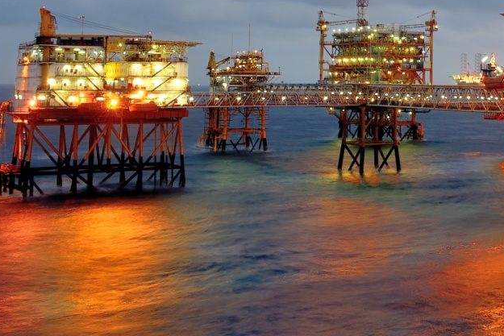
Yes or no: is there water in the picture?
Yes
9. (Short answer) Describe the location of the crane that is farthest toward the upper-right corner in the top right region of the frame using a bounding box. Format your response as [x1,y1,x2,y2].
[403,6,436,101]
